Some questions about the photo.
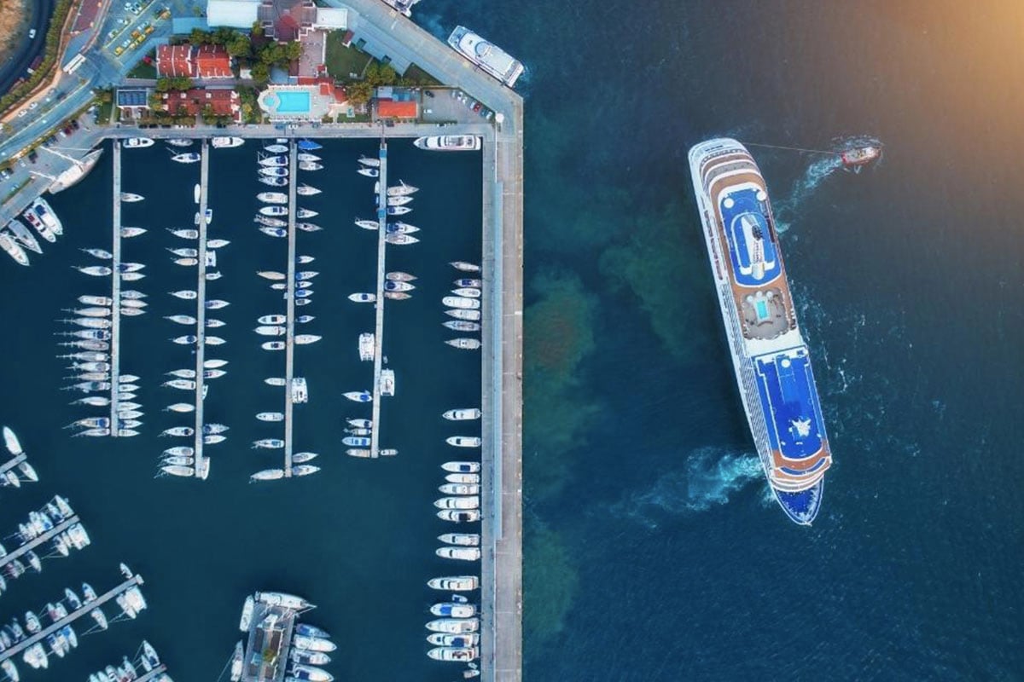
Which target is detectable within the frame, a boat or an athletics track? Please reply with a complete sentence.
The image shows a boat.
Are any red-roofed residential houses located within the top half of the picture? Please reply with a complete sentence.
Yes, you'll find a red-roofed residential house within the top half of the picture.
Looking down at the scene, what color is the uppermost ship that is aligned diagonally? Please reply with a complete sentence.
The color of the uppermost ship that is aligned diagonally is white.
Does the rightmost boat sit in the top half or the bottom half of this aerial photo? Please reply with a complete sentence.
You can find the rightmost boat in the top half.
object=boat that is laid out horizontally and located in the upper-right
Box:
[840,146,883,167]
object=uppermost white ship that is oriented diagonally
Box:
[447,24,521,86]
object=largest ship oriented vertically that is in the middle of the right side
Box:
[687,136,833,527]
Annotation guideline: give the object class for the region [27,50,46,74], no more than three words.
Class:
vehicle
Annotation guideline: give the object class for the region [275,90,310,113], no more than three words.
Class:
swimming pool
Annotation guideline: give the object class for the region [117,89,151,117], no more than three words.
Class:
building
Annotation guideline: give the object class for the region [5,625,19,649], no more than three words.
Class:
boat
